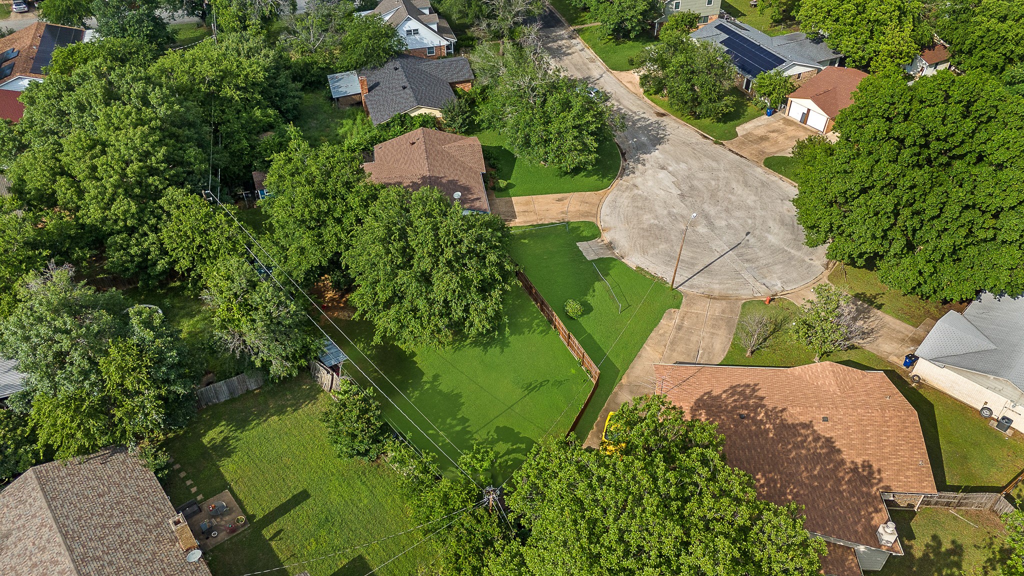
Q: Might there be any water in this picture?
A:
No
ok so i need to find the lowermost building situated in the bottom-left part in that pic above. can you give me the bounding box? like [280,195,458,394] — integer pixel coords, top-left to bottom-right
[0,440,208,576]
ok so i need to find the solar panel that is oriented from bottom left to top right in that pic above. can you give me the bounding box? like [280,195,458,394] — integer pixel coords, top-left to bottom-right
[28,28,78,74]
